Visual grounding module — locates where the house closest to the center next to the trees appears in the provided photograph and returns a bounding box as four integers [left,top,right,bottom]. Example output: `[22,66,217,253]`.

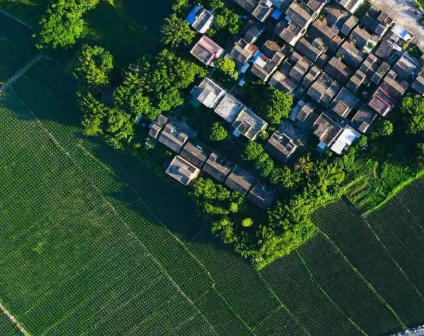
[200,150,234,180]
